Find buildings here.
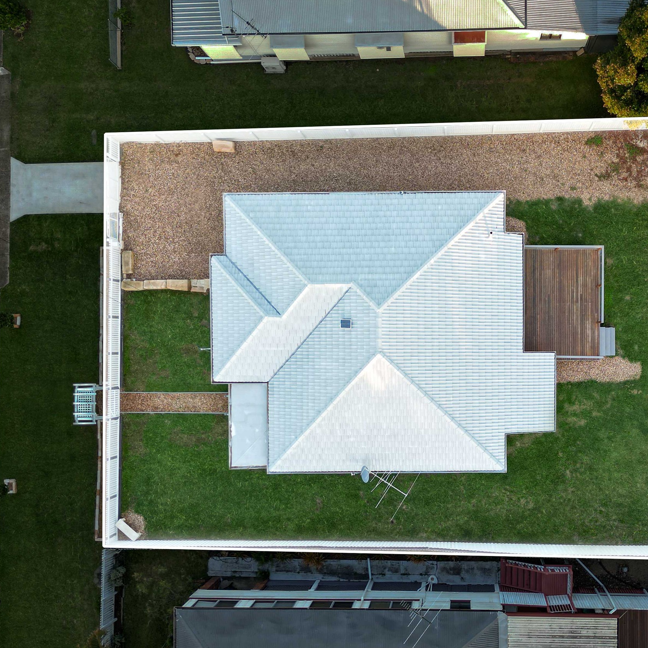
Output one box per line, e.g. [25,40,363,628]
[171,0,648,64]
[208,190,558,475]
[173,558,507,648]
